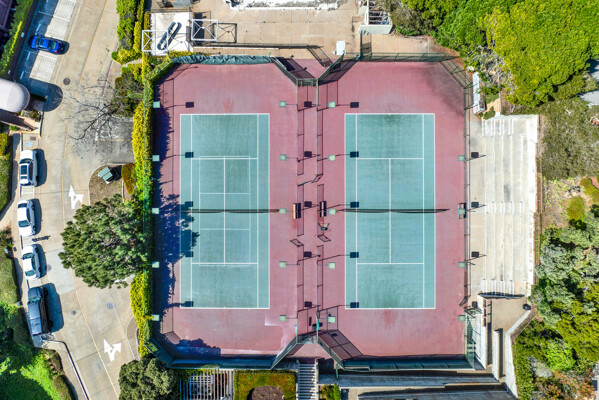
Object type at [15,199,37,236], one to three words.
car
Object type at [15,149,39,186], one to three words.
car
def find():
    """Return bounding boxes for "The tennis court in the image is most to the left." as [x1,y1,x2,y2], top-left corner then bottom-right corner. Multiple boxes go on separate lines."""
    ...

[153,64,297,358]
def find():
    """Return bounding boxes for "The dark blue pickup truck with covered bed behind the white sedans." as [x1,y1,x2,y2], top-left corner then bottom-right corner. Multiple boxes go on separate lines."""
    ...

[26,288,52,335]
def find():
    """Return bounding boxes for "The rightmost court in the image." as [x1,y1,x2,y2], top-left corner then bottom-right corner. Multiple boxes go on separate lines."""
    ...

[316,62,466,357]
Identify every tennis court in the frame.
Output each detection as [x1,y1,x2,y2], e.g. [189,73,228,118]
[316,62,466,357]
[153,64,297,358]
